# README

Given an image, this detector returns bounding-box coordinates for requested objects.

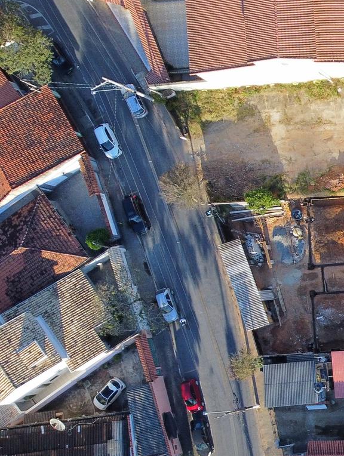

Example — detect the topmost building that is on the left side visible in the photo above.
[0,61,102,211]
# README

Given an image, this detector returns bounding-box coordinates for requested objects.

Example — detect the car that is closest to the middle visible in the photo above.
[123,193,156,236]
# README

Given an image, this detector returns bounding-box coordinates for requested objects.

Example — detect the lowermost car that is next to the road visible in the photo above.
[192,414,219,456]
